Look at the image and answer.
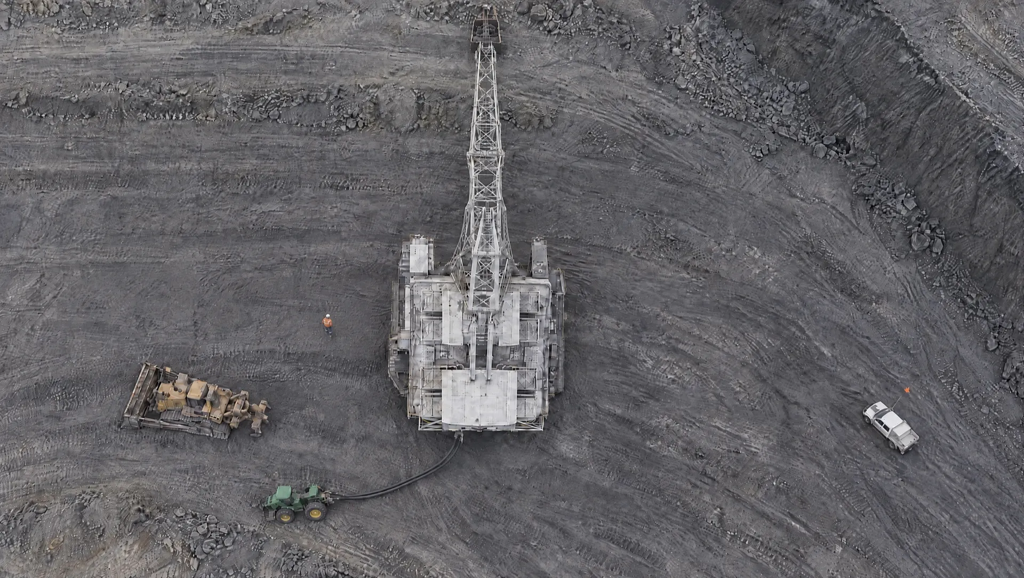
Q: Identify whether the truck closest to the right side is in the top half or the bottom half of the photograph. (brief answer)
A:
bottom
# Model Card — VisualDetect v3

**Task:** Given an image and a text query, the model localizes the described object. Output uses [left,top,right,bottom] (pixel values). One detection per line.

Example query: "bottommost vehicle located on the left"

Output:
[258,483,335,527]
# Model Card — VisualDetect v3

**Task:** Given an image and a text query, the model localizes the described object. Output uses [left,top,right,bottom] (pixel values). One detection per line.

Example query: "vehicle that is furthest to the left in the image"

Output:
[120,361,264,446]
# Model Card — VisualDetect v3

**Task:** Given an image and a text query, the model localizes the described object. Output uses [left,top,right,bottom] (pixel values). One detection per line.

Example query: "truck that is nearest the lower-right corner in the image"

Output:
[859,387,921,454]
